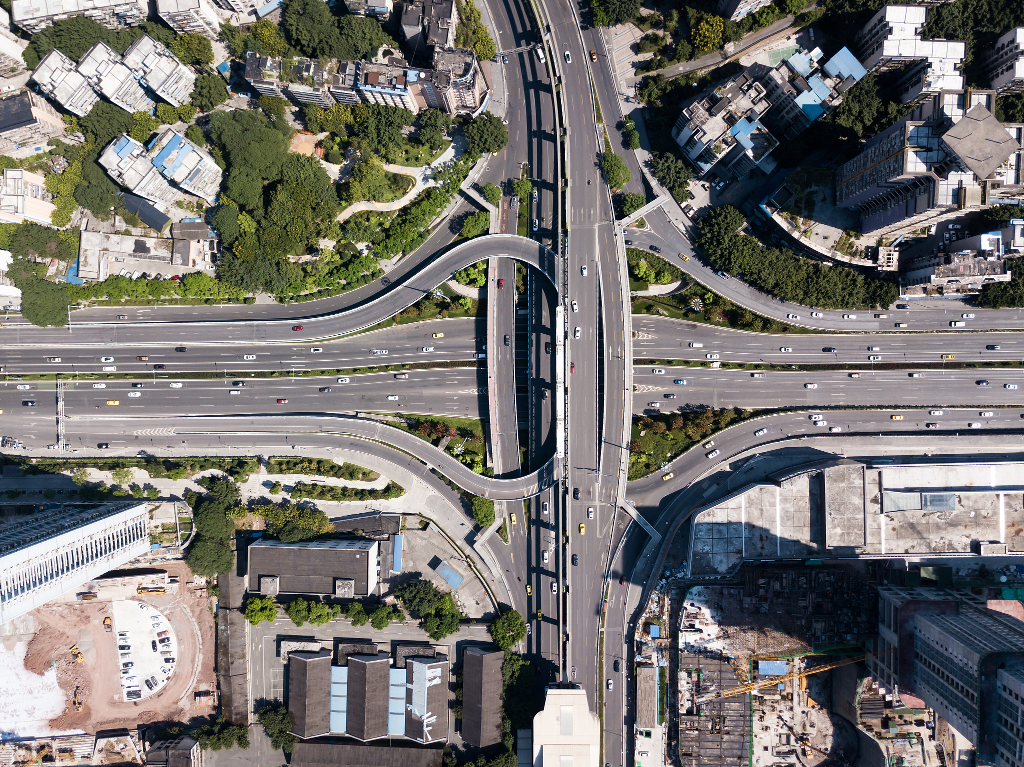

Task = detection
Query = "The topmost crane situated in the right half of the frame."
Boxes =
[696,642,896,700]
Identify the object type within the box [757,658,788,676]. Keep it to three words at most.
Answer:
building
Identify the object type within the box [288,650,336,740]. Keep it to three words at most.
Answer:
building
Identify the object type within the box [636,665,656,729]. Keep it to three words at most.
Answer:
shed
